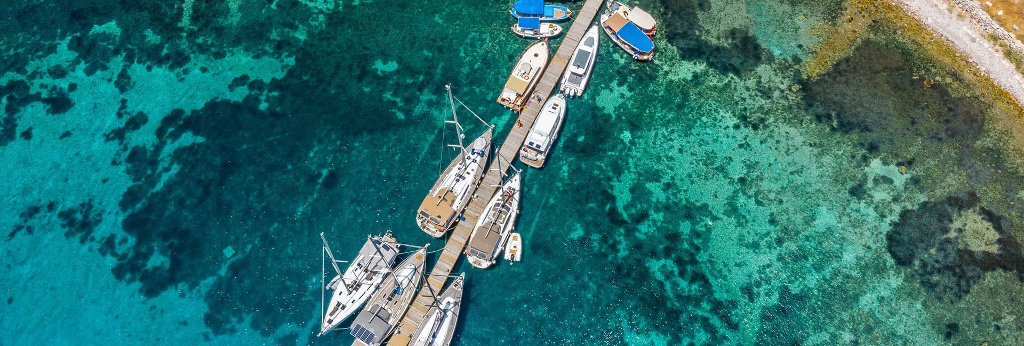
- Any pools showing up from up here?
No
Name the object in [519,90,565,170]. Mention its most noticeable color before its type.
white boat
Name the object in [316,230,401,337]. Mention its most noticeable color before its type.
white boat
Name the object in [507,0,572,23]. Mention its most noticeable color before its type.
blue boat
